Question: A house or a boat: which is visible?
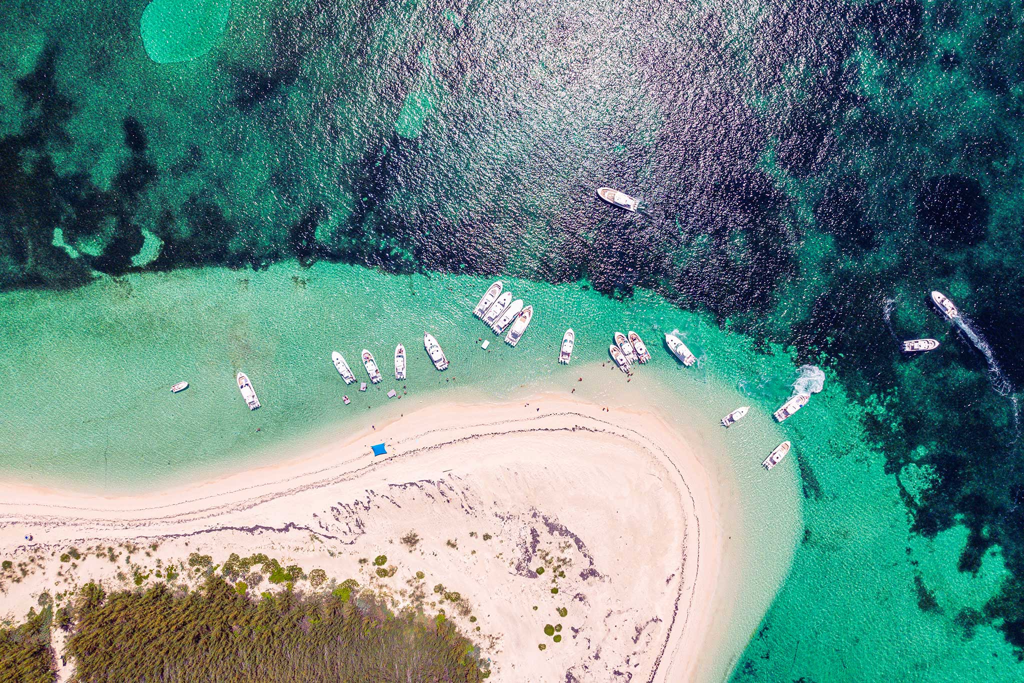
boat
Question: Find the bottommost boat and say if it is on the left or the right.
right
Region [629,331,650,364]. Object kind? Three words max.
boat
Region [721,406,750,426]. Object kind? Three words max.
boat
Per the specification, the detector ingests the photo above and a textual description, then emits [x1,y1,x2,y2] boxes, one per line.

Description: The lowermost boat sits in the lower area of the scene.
[760,441,790,471]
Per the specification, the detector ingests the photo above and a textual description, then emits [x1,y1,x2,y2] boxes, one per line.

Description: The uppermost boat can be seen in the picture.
[597,188,641,214]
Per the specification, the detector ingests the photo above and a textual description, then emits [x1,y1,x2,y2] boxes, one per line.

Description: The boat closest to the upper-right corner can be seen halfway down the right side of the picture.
[931,291,958,321]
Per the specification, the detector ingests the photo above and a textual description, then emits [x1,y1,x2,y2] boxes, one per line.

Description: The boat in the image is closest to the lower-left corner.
[172,381,188,393]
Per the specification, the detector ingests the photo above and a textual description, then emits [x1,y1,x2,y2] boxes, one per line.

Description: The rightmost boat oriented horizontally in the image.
[899,339,939,352]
